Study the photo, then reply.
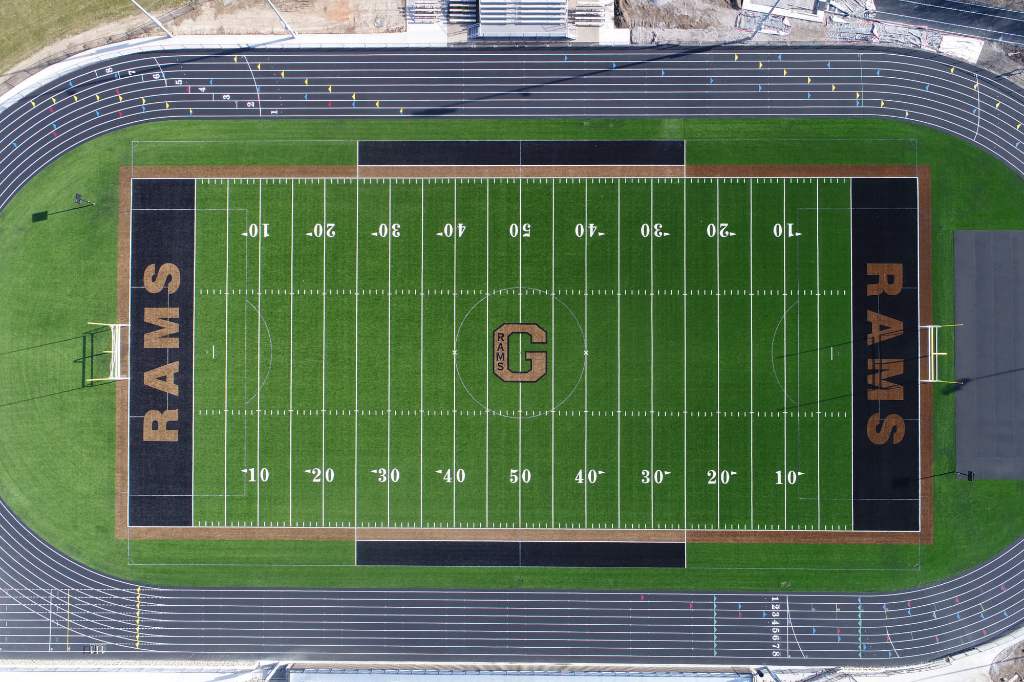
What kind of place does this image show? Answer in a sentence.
The area seen from above is a sports ground.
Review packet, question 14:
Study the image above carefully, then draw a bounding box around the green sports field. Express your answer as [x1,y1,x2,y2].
[0,117,1024,592]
